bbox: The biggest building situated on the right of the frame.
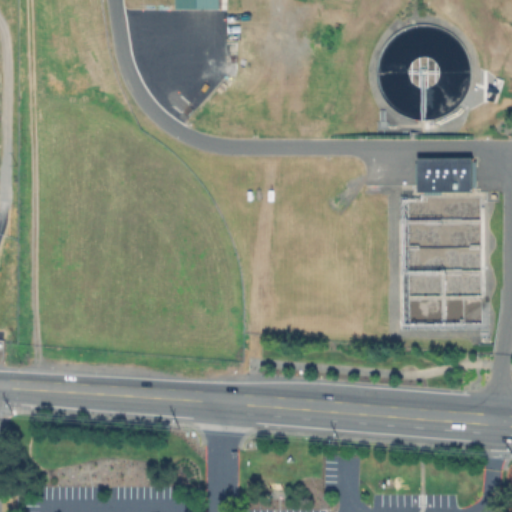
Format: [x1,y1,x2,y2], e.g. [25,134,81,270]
[416,158,476,194]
